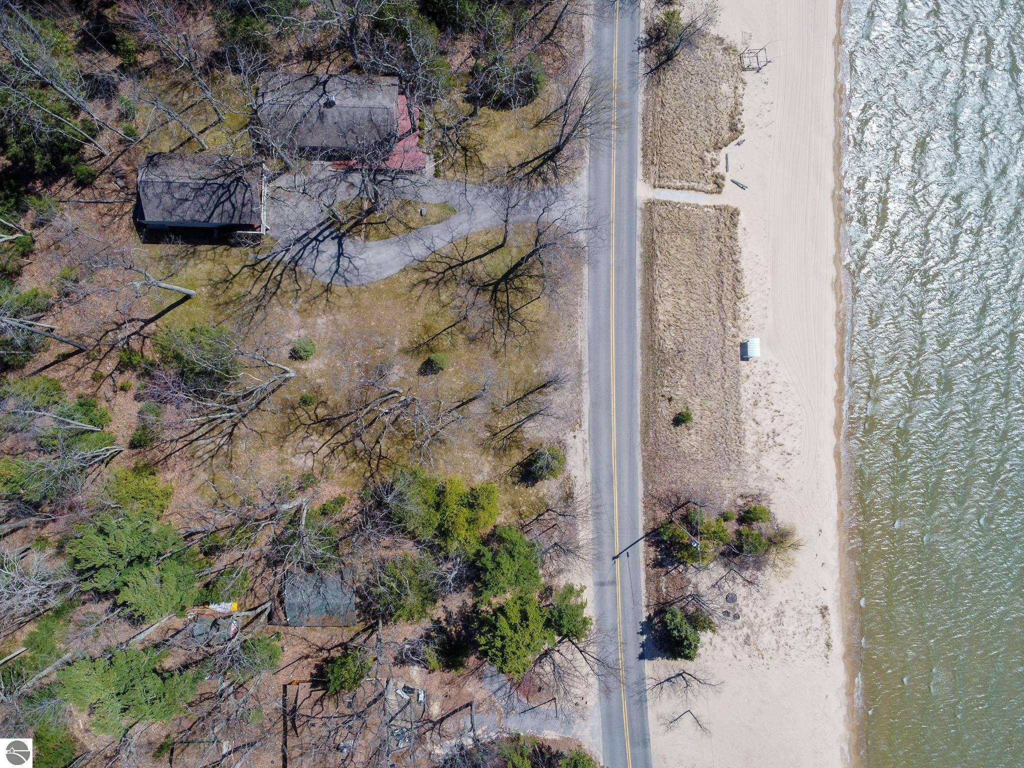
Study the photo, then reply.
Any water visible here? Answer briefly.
Yes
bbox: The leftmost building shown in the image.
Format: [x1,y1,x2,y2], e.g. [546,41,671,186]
[130,155,271,225]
